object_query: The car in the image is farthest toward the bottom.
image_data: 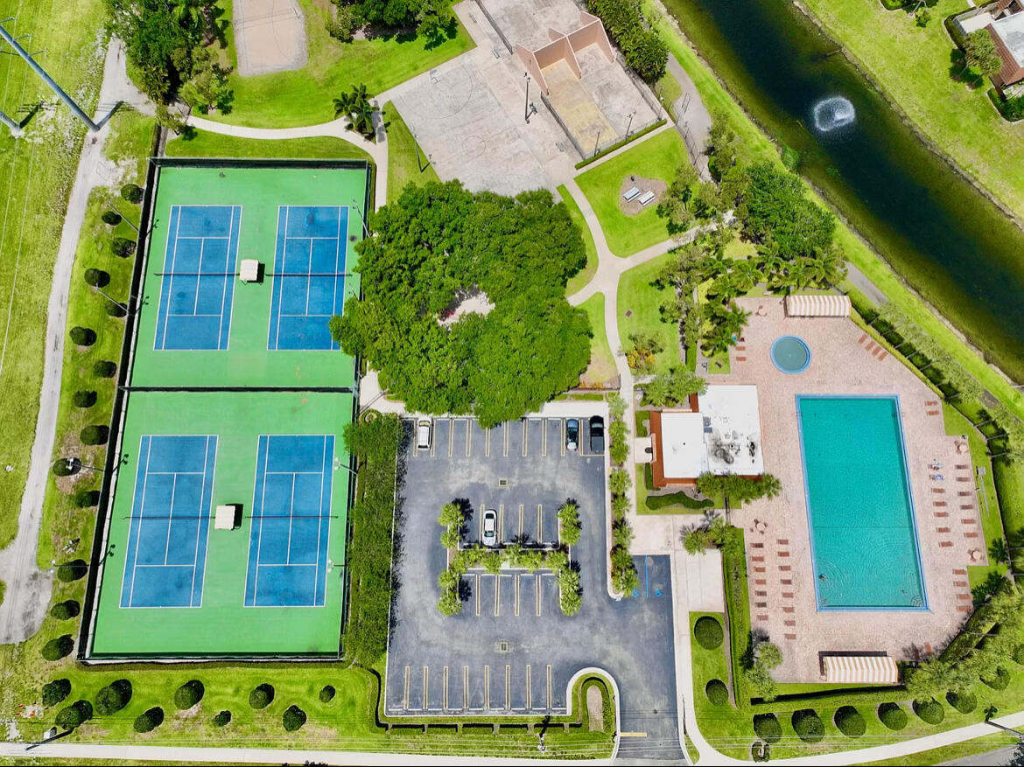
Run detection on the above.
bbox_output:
[482,511,497,545]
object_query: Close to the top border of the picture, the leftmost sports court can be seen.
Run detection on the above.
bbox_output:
[230,0,307,77]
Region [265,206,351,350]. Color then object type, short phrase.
blue tennis court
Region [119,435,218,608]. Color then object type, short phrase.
blue tennis court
